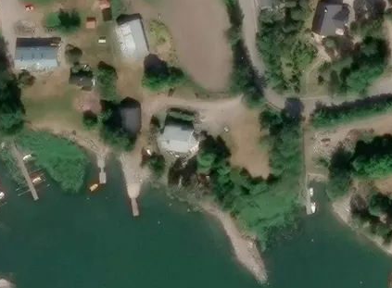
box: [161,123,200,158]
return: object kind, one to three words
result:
house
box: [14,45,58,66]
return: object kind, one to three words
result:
house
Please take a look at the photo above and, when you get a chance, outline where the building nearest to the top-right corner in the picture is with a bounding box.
[315,0,351,36]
